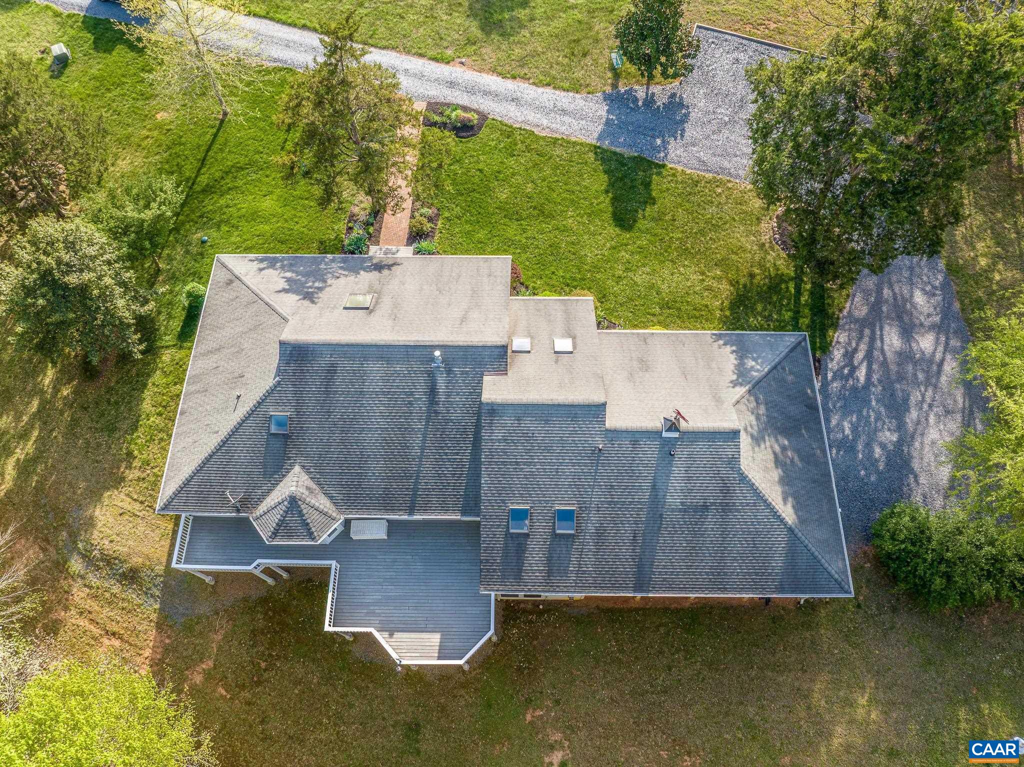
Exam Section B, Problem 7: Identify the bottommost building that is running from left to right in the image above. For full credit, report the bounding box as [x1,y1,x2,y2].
[153,253,859,612]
